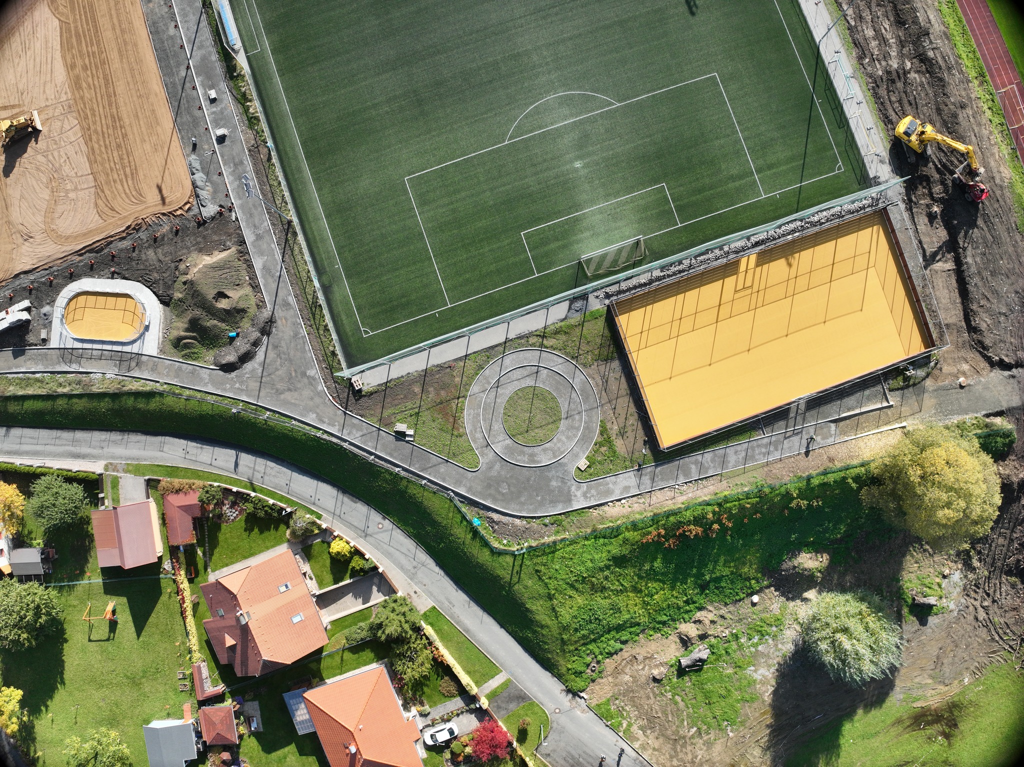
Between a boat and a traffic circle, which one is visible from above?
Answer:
traffic circle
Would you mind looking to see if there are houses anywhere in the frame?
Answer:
Yes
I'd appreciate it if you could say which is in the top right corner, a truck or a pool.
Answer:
truck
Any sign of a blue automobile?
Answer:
No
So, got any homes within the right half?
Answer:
No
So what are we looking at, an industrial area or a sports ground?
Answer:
sports ground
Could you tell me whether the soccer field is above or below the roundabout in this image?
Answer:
above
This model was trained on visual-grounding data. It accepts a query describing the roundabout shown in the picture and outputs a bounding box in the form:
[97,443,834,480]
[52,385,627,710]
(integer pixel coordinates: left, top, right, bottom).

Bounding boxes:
[467,349,599,481]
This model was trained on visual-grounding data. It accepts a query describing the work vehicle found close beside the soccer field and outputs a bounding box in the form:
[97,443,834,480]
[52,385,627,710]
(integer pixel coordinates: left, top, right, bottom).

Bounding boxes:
[891,121,975,181]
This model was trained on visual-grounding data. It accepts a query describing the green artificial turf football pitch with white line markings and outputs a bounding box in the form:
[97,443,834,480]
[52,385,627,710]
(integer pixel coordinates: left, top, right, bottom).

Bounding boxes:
[229,0,872,375]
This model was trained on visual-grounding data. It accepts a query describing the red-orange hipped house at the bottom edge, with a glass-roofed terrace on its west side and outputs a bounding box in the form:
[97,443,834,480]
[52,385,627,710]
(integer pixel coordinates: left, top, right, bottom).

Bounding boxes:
[282,661,430,767]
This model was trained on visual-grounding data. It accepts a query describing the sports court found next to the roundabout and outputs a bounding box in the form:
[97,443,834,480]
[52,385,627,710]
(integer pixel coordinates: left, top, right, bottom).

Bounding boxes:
[608,201,949,451]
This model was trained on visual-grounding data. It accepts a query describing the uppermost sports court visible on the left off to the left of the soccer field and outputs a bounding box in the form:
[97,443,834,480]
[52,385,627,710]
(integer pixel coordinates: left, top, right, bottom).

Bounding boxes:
[53,288,146,340]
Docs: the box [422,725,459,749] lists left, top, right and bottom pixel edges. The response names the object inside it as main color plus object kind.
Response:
white car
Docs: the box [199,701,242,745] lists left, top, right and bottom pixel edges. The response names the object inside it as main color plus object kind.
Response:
red gazebo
